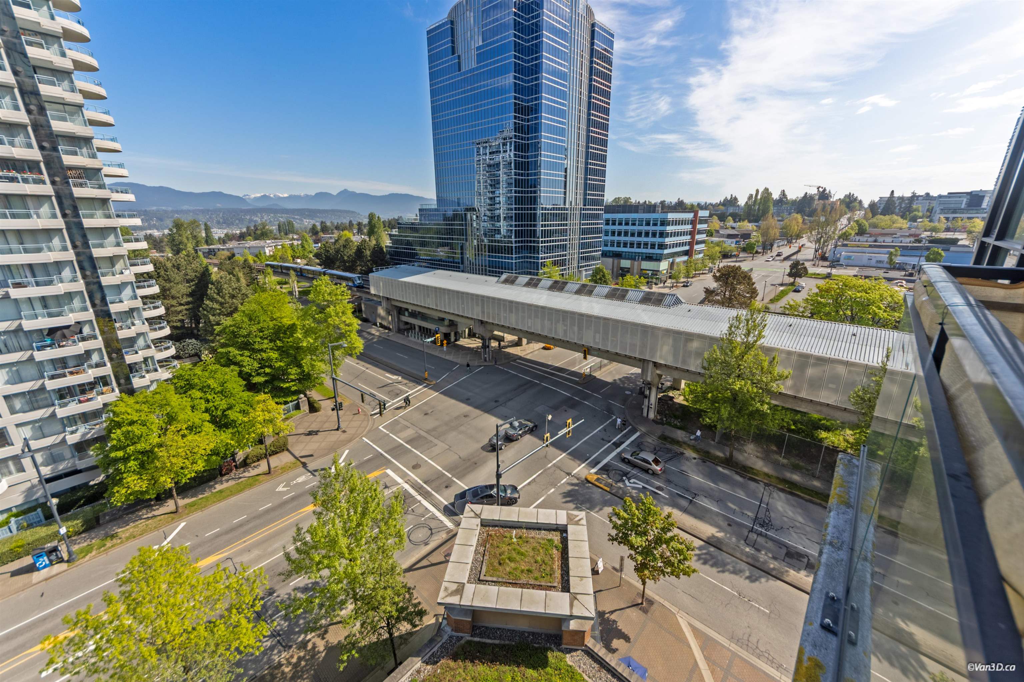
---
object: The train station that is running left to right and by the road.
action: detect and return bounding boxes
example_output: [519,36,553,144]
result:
[361,261,899,422]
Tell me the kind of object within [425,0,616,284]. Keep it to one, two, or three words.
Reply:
building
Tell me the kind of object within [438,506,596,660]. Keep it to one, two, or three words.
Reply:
building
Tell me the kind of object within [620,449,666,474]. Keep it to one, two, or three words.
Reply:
car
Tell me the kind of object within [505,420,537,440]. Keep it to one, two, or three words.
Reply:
car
